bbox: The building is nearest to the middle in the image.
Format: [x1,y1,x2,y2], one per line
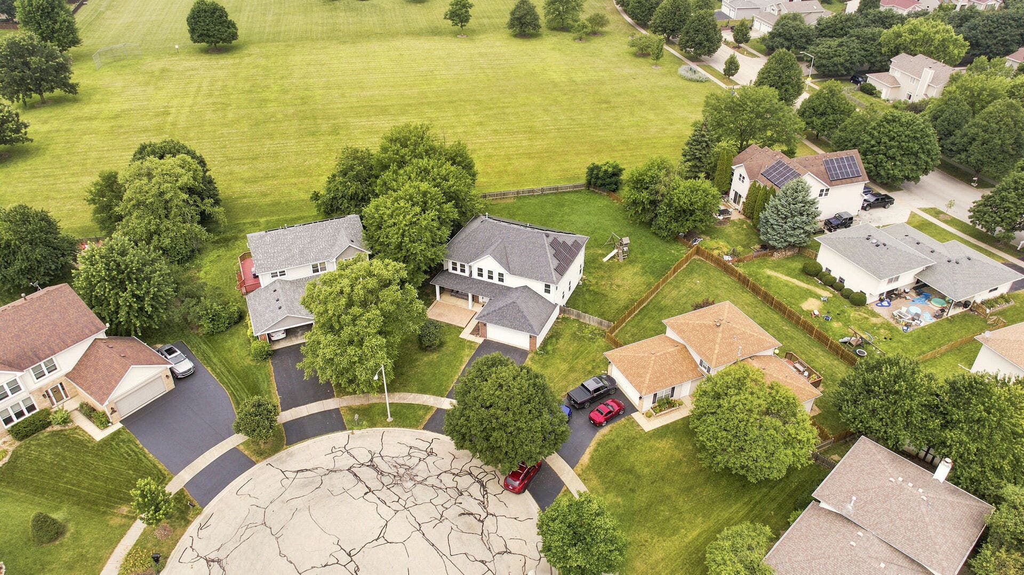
[429,213,589,351]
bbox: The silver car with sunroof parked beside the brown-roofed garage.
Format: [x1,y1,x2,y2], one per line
[157,346,190,375]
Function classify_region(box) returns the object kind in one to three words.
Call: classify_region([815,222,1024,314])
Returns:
house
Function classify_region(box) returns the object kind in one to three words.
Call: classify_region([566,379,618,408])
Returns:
truck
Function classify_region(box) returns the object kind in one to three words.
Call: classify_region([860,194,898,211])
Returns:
vehicle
